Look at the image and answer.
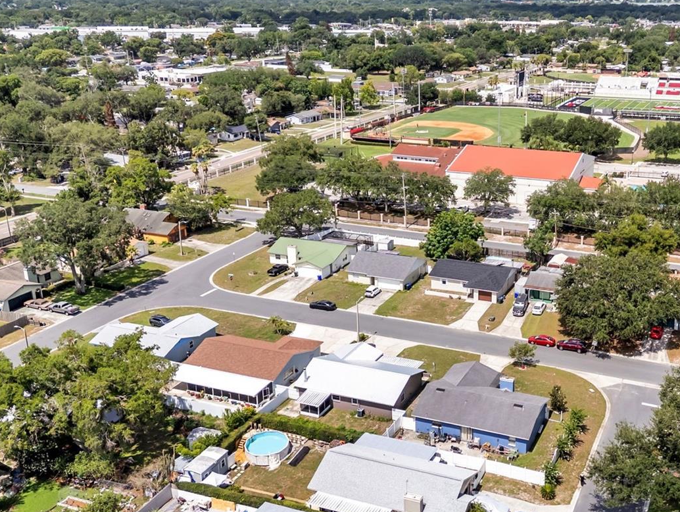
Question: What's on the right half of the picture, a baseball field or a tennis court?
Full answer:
Looking on the right half of the picture, you will find a baseball field.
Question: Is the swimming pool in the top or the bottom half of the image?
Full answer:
Seen from above, the swimming pool lies in the bottom half of the view.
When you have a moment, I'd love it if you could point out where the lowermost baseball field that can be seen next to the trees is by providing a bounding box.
[364,107,633,159]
